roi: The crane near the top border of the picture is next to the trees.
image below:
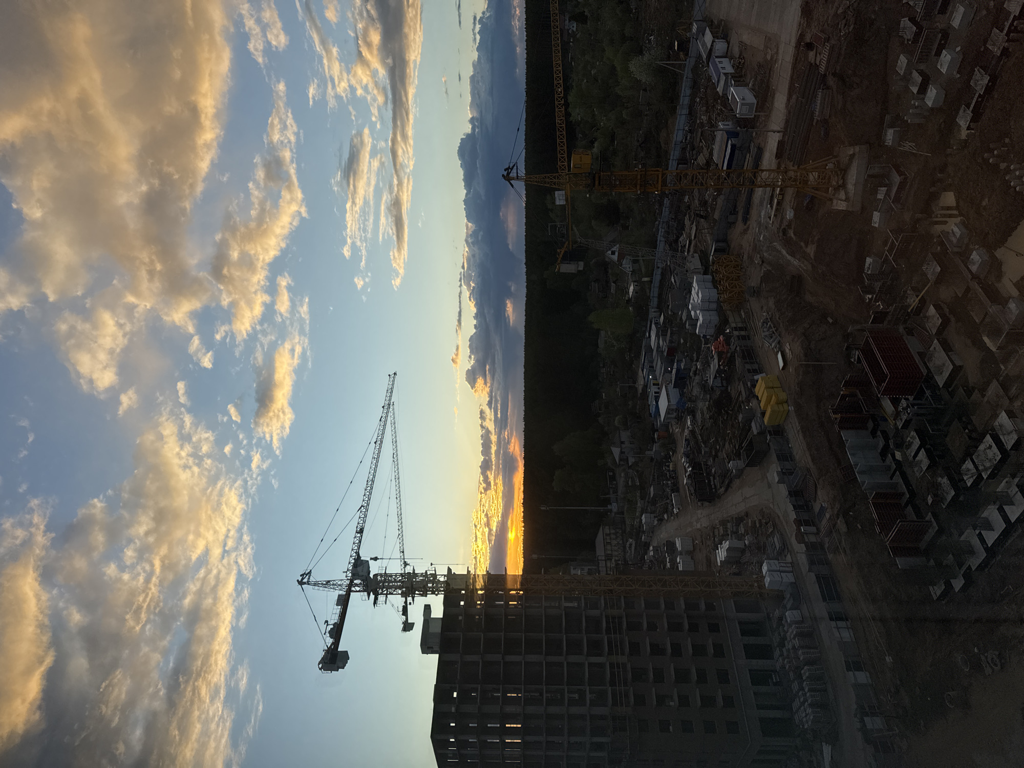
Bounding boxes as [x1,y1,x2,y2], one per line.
[501,0,858,276]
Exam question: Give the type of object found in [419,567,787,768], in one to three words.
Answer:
building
